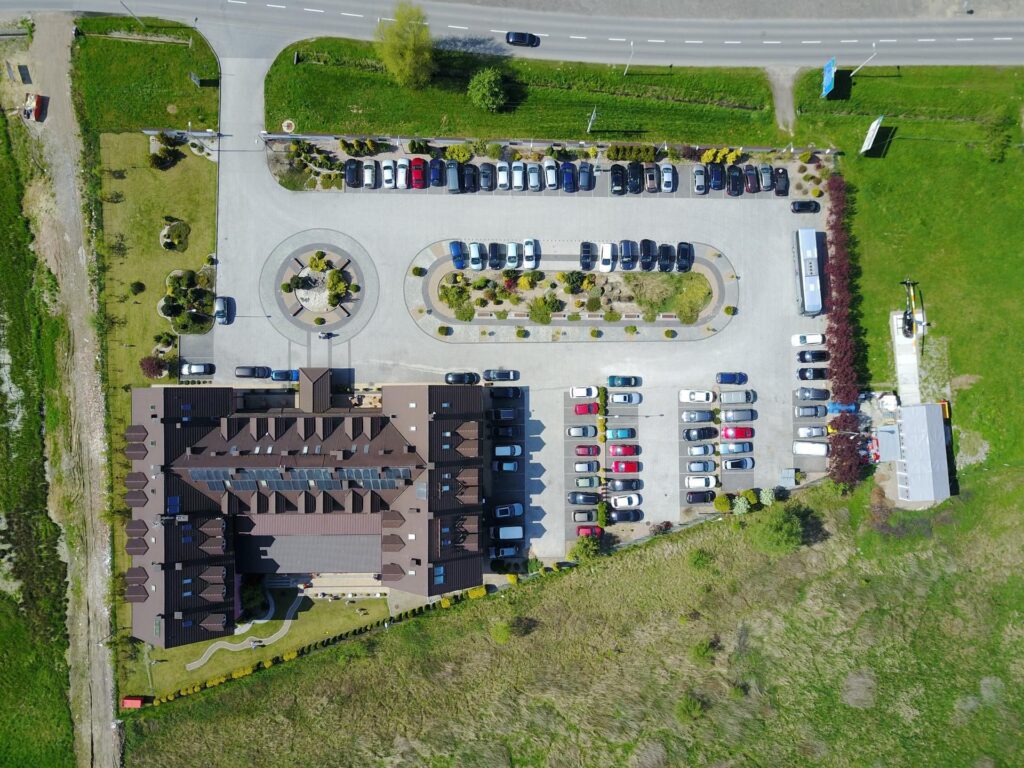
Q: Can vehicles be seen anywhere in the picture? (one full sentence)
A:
Yes, the picture does show a vehicle.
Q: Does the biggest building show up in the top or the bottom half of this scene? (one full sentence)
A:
The biggest building sits in the bottom half of the picture.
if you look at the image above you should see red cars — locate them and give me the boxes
[573,402,600,415]
[610,444,638,457]
[721,426,752,440]
[612,460,639,473]
[576,525,603,539]
[411,158,426,190]
[575,444,600,457]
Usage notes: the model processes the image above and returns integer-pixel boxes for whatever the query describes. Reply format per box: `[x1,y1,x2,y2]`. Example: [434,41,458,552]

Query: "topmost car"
[506,32,537,50]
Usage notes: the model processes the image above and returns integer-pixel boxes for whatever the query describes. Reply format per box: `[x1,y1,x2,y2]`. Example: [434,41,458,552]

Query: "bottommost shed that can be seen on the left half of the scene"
[123,694,148,709]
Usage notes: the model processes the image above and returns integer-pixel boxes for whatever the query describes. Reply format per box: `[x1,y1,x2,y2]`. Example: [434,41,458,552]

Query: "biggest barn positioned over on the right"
[883,405,950,501]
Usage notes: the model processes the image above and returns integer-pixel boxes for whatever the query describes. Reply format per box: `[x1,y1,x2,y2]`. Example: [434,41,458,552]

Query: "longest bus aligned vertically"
[796,229,824,315]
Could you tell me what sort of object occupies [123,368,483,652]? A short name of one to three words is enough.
building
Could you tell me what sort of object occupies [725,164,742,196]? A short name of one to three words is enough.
car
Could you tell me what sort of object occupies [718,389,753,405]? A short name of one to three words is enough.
vehicle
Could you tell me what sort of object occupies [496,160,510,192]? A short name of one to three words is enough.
car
